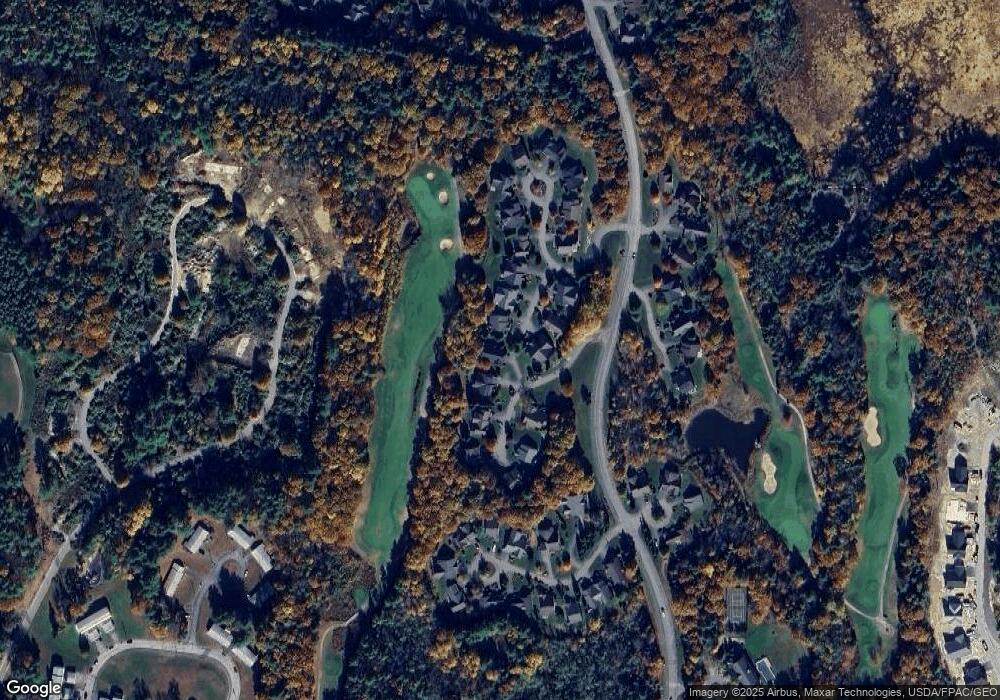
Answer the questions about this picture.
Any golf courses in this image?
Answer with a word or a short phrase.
Yes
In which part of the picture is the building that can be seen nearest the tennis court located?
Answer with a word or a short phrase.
bottom right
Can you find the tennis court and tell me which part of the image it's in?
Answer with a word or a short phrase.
bottom right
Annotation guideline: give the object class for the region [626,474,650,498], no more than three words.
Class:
house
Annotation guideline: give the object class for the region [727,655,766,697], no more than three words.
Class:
building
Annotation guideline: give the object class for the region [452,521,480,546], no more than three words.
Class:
house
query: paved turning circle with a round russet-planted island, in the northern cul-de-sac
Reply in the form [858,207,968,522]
[522,171,555,203]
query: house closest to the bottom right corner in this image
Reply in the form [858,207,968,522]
[965,672,988,698]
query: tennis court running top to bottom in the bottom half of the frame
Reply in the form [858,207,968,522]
[727,588,747,633]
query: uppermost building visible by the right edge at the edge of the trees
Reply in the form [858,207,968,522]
[950,472,969,495]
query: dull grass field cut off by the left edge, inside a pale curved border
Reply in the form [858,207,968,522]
[0,334,35,434]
